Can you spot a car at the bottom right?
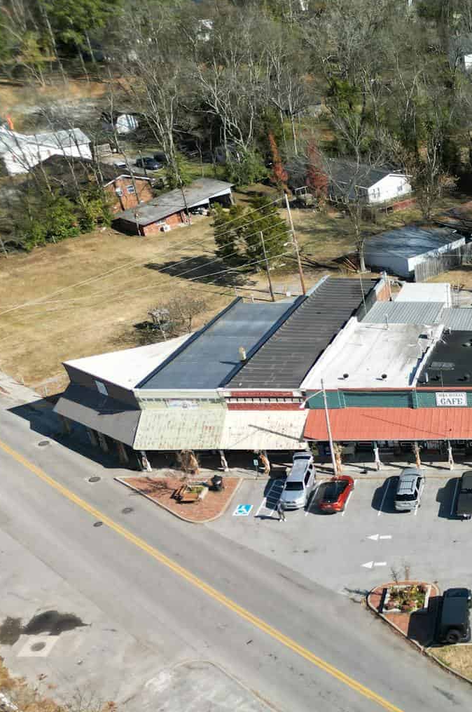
Yes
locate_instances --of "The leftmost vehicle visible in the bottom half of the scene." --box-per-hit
[282,447,323,506]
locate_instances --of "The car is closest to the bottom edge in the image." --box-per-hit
[438,581,472,635]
